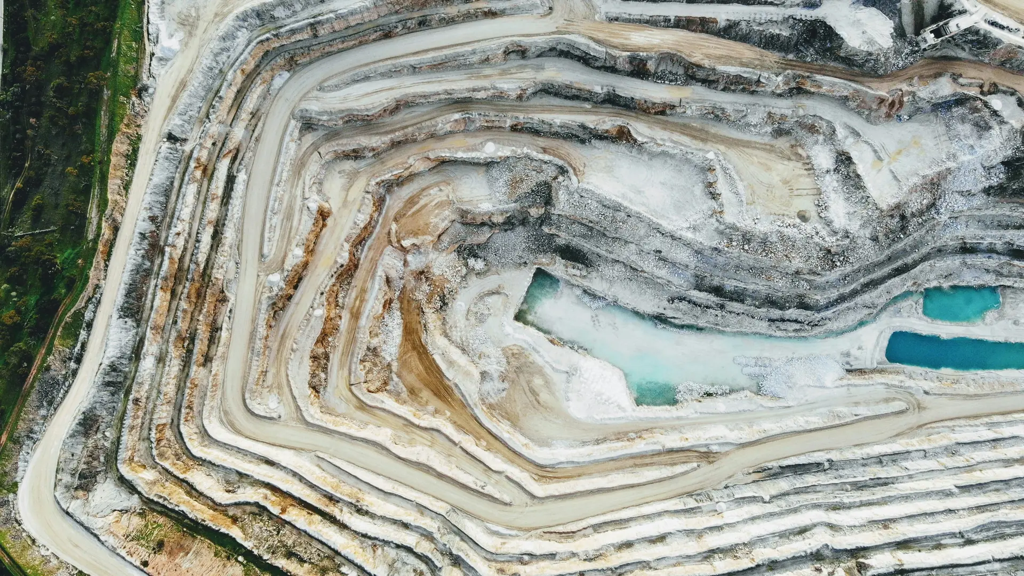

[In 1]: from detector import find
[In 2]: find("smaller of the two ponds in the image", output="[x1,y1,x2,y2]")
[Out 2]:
[921,282,1003,323]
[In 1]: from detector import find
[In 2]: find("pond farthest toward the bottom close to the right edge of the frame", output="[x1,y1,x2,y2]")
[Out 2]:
[885,330,1024,373]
